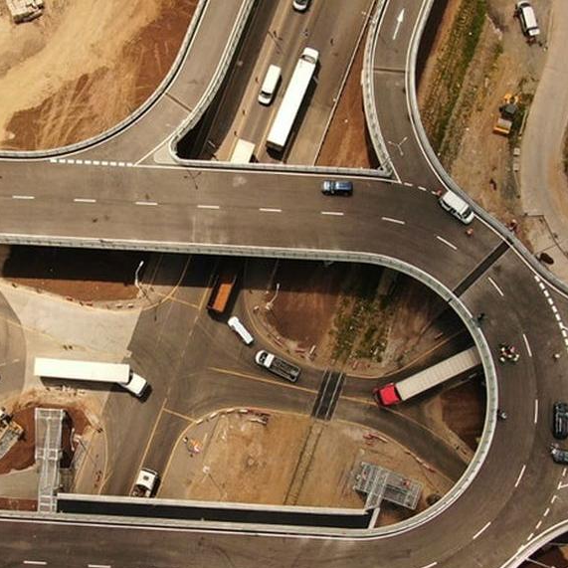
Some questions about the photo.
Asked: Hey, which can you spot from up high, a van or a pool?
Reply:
van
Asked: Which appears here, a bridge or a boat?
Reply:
bridge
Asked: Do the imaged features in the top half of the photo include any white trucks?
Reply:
Yes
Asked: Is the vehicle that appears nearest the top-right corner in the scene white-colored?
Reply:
Yes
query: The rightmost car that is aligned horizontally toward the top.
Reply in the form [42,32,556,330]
[320,180,352,196]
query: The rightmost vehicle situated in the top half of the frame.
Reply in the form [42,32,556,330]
[514,5,542,38]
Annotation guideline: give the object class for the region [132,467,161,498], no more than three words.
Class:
truck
